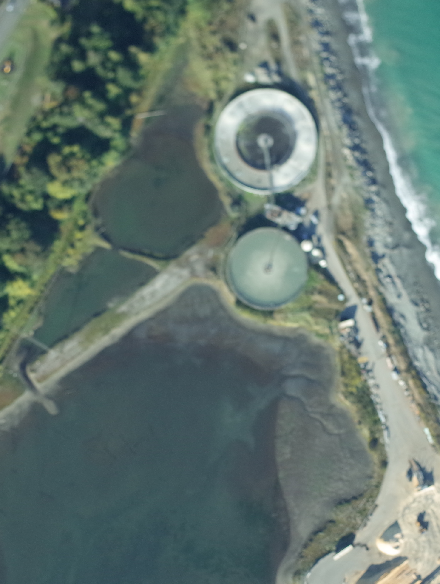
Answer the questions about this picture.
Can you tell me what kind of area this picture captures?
industrial area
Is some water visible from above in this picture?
Yes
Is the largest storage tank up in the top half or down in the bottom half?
top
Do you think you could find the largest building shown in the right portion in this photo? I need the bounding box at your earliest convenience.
[264,206,302,229]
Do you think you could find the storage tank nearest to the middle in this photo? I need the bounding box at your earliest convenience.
[226,227,307,310]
